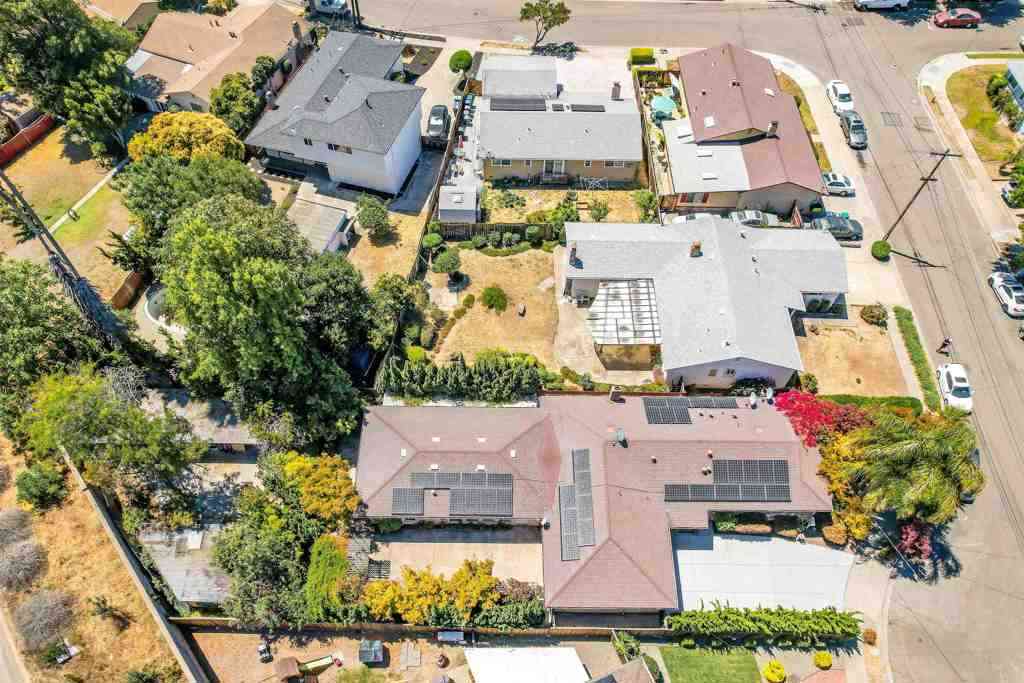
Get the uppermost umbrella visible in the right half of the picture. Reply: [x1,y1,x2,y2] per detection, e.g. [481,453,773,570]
[649,98,675,122]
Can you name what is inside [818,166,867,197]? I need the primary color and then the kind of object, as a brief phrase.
white car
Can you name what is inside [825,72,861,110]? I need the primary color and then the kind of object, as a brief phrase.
white car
